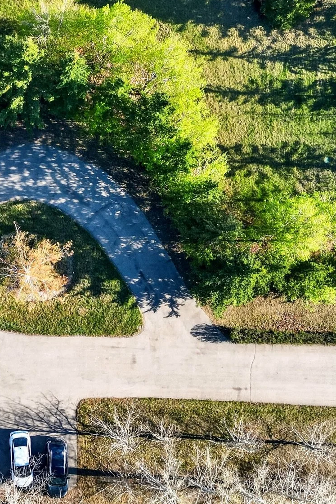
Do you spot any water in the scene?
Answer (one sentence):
No, there is no water in the image.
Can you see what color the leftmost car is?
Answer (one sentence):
The leftmost car is white.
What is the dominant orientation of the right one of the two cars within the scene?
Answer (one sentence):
The right one of the two cars runs from top to bottom in the image.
